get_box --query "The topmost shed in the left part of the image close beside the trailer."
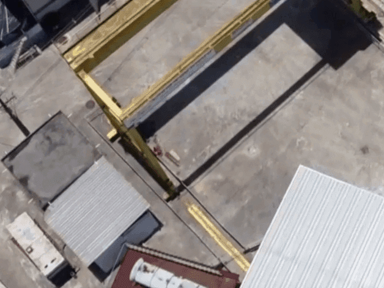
[0,109,108,211]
